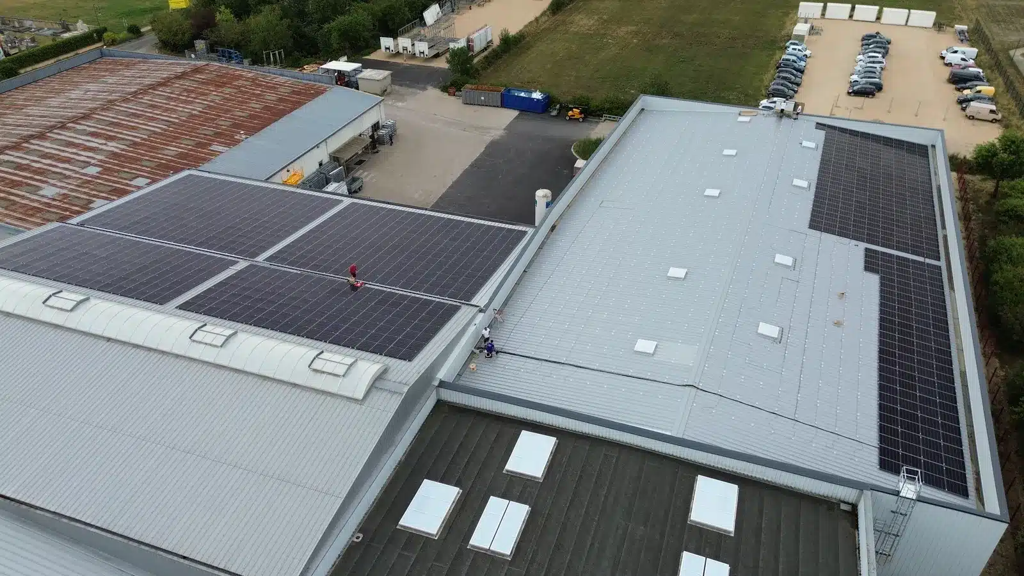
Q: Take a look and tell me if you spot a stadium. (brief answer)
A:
No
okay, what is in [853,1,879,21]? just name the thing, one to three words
building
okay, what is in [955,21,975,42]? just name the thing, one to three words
vehicle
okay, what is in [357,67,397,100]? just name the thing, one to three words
shed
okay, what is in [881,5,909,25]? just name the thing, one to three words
building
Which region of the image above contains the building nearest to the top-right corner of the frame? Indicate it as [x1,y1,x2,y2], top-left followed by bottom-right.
[908,7,937,28]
